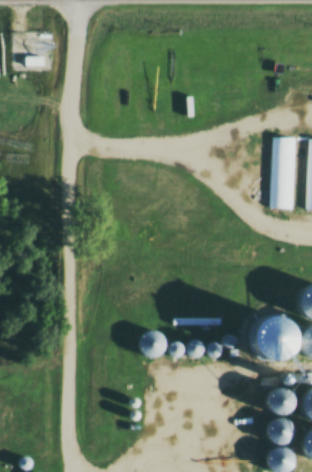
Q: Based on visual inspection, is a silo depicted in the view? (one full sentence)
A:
Yes, the image includes a silo.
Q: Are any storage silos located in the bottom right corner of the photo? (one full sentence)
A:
Yes, in the bottom right corner of the photo there is a storage silo.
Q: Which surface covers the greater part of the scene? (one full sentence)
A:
Most of the picture is covered by grass.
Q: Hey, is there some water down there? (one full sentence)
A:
No, the picture contains no water.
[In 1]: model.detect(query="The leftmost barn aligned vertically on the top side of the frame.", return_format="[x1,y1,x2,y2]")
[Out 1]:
[270,137,296,211]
